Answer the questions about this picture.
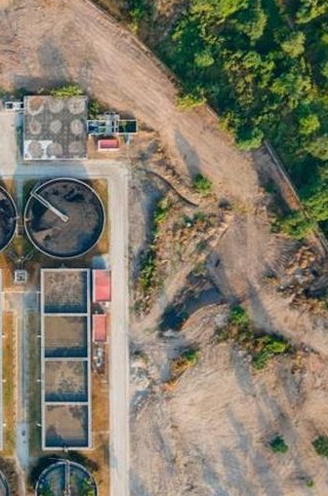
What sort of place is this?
industrial area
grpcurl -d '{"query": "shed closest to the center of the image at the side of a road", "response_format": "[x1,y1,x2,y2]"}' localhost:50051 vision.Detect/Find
[90,270,110,303]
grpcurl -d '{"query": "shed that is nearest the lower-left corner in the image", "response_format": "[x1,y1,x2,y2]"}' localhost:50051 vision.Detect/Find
[90,314,106,344]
